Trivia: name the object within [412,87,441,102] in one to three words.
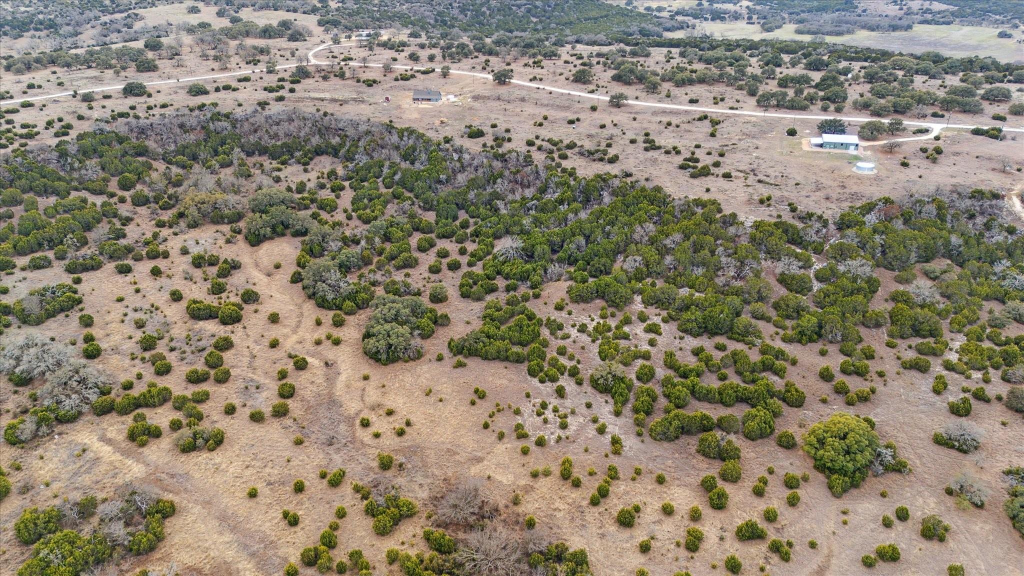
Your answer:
house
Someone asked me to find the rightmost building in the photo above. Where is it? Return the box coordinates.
[807,130,862,153]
